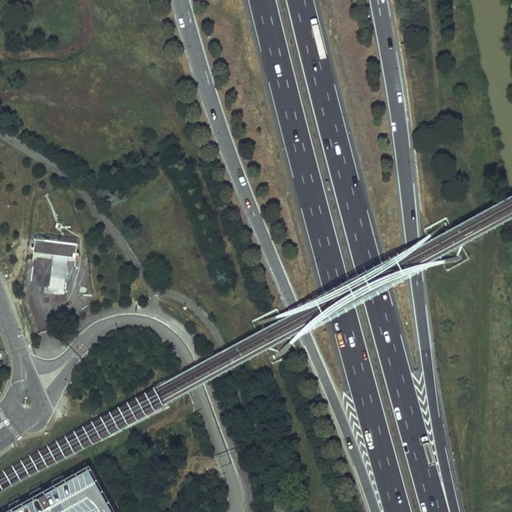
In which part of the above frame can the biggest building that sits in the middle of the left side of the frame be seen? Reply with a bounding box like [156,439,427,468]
[32,238,78,294]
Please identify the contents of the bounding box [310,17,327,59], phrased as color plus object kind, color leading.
white vehicle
